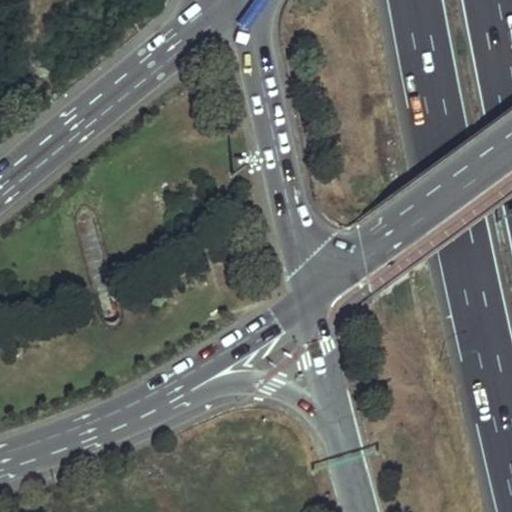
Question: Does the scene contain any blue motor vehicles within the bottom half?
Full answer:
No, the scene shows no blue motor vehicle within the bottom half.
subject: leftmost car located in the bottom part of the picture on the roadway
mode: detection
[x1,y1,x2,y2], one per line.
[146,374,168,390]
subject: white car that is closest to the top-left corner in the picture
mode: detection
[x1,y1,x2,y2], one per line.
[146,34,166,51]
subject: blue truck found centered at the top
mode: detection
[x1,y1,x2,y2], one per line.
[234,0,268,46]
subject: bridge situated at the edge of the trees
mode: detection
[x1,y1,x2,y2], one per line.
[350,113,512,310]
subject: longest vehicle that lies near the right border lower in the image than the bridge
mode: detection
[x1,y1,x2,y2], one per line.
[472,382,492,422]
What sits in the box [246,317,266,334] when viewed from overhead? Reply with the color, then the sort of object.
white car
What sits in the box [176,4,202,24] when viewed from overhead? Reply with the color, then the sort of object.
white vehicle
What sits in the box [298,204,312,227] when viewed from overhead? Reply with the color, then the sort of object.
white car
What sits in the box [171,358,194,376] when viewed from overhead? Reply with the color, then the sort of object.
white vehicle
